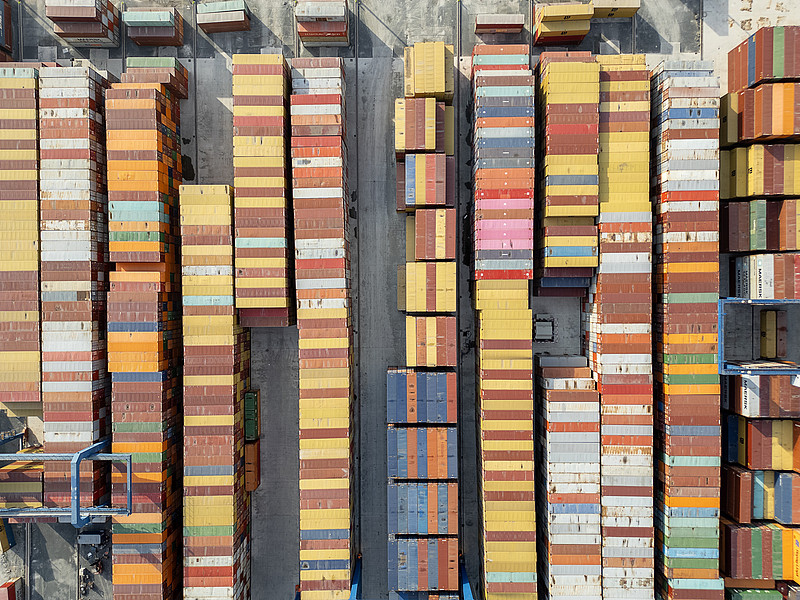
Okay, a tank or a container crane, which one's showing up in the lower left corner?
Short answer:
container crane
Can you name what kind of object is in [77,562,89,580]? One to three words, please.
vehicle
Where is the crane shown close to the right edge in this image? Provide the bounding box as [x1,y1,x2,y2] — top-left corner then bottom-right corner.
[714,298,800,373]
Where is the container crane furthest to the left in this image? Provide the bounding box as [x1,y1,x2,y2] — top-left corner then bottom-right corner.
[0,420,137,529]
